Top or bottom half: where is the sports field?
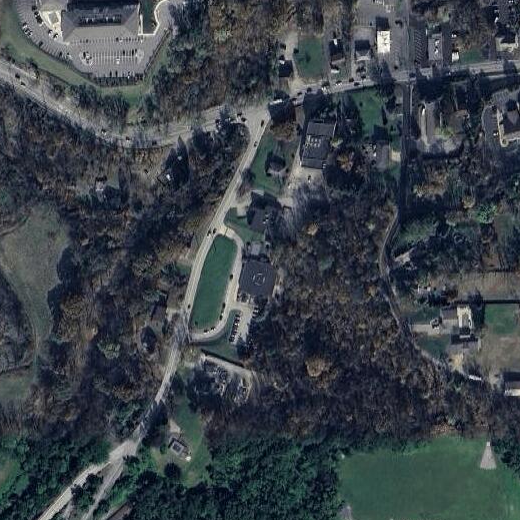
bottom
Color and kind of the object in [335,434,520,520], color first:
green sports field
